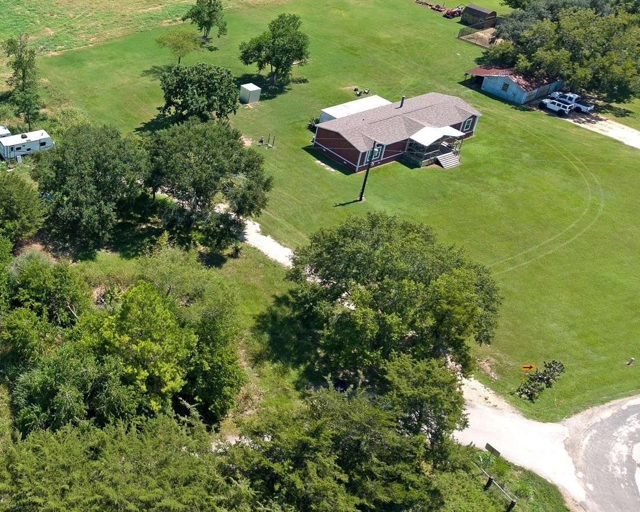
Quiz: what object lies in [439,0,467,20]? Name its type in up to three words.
work vehicle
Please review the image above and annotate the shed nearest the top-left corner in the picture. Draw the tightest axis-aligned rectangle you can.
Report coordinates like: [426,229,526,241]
[241,81,265,106]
